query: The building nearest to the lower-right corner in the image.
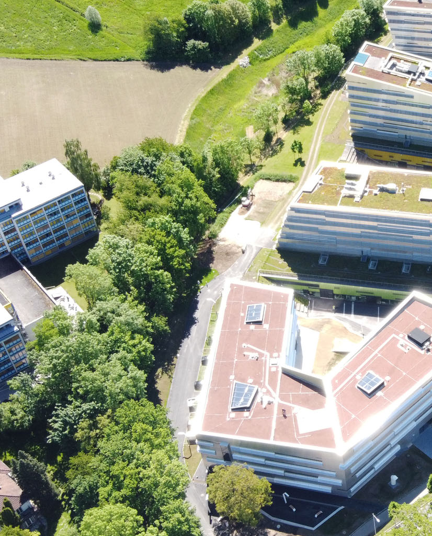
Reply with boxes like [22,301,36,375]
[191,282,432,500]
